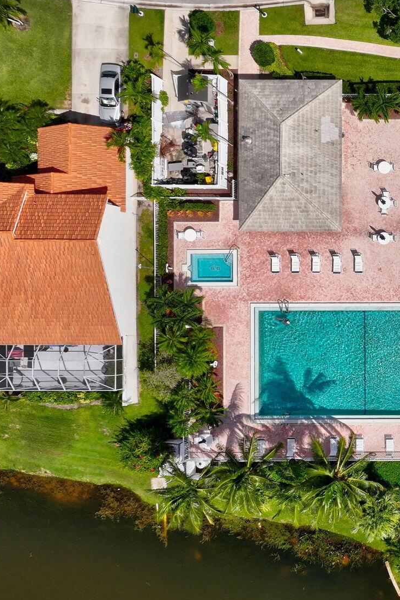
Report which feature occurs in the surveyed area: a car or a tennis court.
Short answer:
car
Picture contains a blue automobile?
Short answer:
No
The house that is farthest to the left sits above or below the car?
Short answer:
below it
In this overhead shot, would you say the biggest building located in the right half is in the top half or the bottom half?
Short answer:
top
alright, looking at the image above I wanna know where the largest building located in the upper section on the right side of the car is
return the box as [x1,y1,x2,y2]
[238,74,343,231]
